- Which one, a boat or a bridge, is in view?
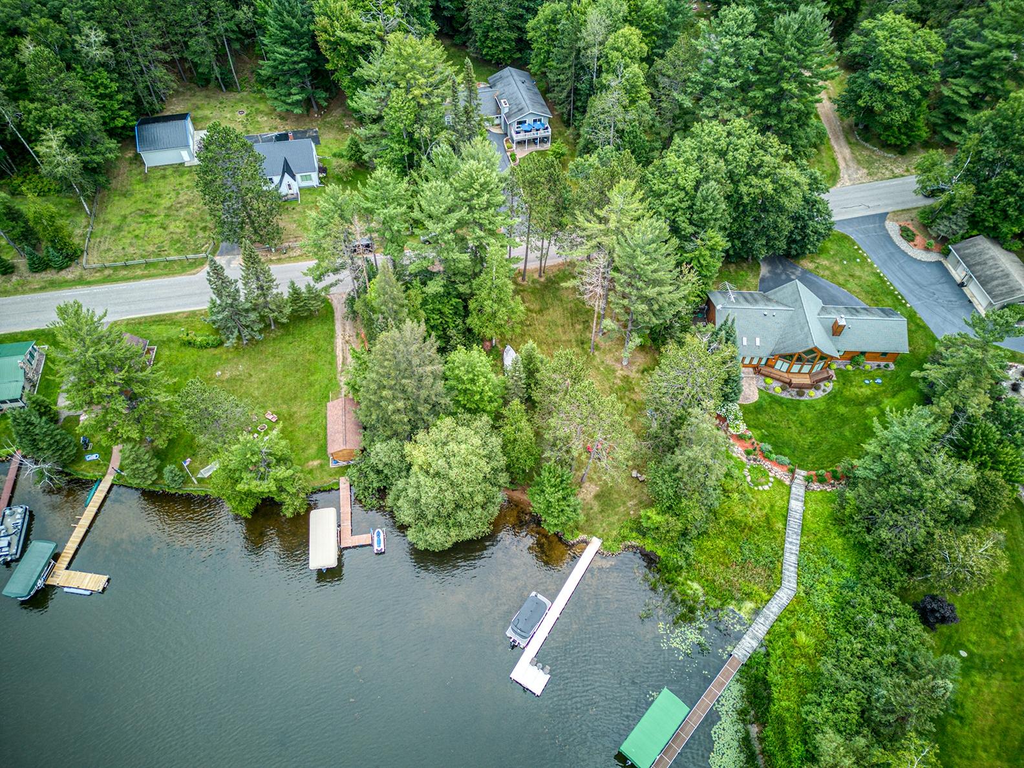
boat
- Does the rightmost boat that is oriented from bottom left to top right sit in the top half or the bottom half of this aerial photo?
bottom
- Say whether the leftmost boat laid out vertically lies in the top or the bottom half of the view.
bottom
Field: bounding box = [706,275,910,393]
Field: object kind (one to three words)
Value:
house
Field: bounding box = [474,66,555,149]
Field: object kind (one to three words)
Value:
house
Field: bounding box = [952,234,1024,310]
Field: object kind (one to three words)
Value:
building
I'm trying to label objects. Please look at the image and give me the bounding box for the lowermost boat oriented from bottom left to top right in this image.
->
[508,593,549,645]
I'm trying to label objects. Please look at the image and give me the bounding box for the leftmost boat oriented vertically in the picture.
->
[0,505,29,563]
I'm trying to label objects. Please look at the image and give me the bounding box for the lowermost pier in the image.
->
[650,653,746,768]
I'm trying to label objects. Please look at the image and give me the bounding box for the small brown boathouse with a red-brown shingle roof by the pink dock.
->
[327,391,365,469]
